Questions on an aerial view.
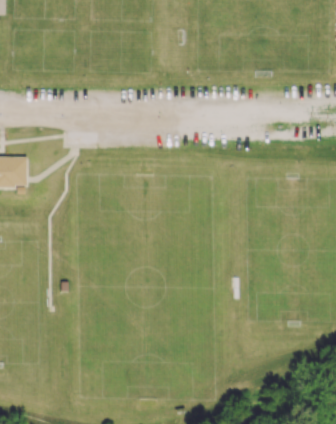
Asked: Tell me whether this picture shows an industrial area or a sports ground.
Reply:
sports ground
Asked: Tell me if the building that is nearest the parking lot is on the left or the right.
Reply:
left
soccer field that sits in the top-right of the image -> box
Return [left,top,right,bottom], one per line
[197,0,330,72]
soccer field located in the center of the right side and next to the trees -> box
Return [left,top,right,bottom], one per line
[247,178,336,322]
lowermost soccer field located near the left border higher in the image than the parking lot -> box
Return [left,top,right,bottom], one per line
[13,30,76,72]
